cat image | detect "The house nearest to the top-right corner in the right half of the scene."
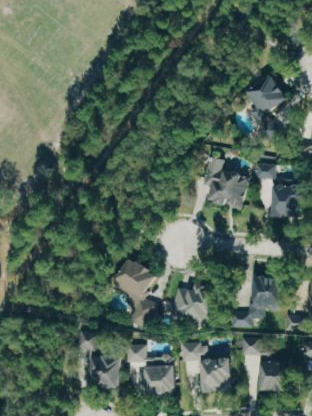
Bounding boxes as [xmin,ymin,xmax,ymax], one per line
[246,74,288,113]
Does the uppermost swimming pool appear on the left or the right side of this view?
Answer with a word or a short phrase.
right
